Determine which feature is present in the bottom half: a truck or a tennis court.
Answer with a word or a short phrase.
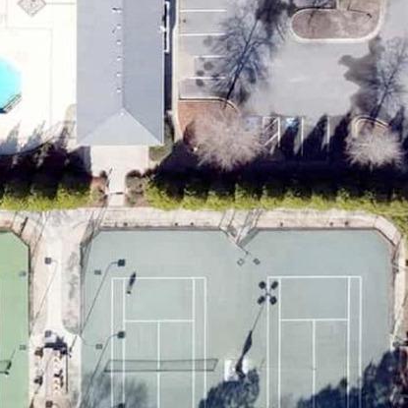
tennis court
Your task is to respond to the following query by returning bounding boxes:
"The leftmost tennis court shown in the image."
[111,278,206,408]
